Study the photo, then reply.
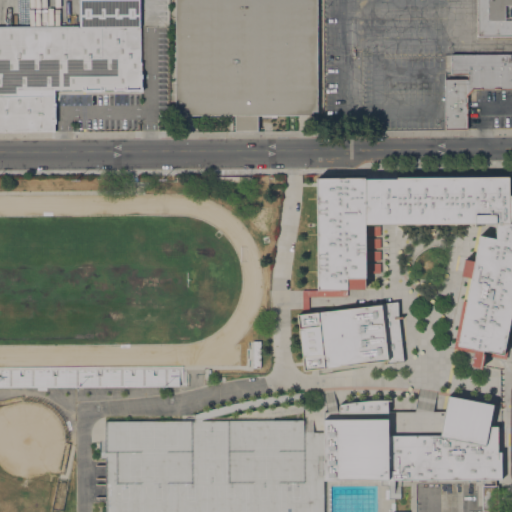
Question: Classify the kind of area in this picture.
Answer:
industrial area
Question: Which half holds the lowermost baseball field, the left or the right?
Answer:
left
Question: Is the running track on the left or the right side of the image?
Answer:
left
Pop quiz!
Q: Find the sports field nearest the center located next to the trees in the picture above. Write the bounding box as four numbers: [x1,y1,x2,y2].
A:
[0,216,242,344]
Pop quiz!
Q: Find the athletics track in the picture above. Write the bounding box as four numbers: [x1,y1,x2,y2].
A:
[0,196,262,366]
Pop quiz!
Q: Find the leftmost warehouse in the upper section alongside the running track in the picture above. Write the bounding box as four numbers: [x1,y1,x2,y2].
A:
[0,0,141,132]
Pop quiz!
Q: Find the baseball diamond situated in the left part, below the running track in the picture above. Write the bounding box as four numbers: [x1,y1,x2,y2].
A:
[0,400,66,487]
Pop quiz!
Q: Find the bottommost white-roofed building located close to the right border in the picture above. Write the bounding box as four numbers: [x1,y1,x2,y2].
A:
[394,426,502,481]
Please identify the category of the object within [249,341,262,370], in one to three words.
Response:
shed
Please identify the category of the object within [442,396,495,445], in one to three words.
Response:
building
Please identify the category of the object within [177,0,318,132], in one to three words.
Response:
warehouse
